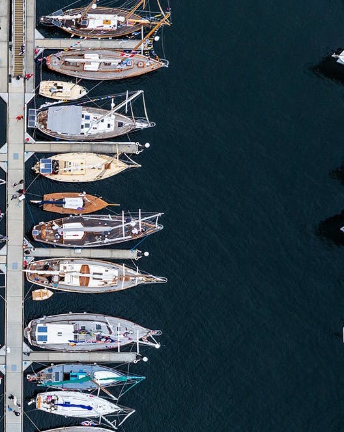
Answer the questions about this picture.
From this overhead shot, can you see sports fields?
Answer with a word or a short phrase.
No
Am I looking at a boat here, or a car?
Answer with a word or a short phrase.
boat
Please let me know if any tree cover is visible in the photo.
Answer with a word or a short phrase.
No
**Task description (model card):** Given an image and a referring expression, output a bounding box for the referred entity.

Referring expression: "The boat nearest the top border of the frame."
[40,0,169,42]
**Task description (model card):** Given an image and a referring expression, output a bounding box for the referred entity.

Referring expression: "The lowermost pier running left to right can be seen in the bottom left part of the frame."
[23,343,136,372]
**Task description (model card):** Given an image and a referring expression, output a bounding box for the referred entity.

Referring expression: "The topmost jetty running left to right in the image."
[36,28,145,58]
